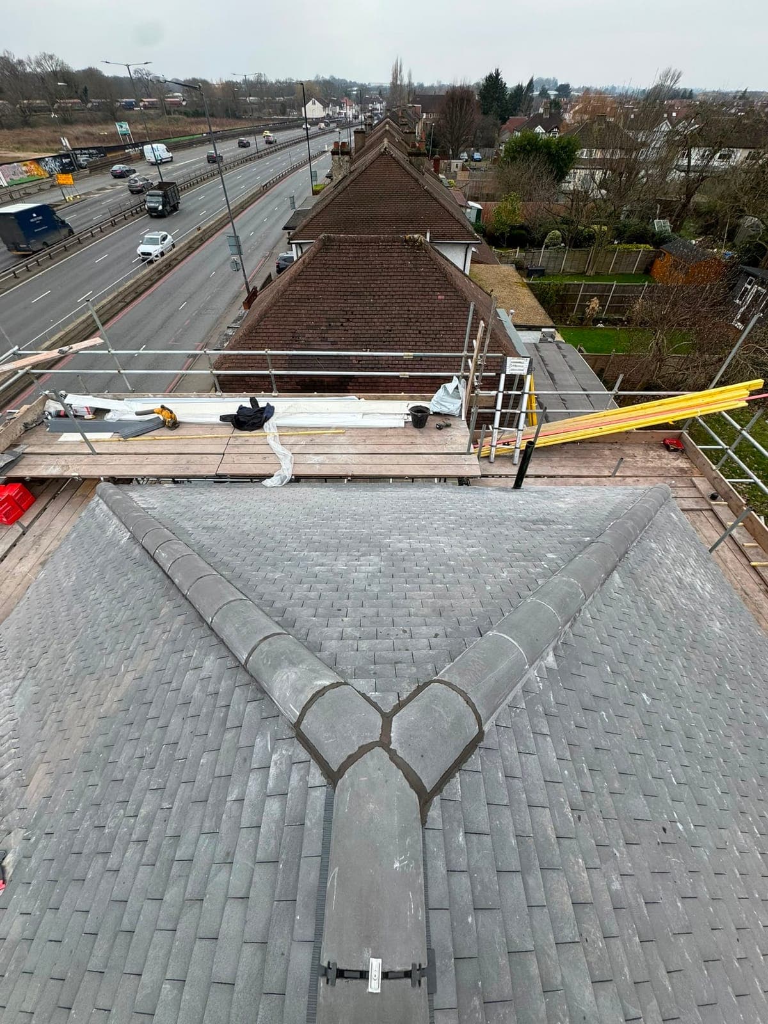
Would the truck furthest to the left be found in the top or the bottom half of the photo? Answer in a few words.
top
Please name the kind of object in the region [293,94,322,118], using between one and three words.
house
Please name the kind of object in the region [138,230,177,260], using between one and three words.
car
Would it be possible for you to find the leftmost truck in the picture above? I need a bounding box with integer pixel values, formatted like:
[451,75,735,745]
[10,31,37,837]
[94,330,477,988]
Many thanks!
[0,202,70,250]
